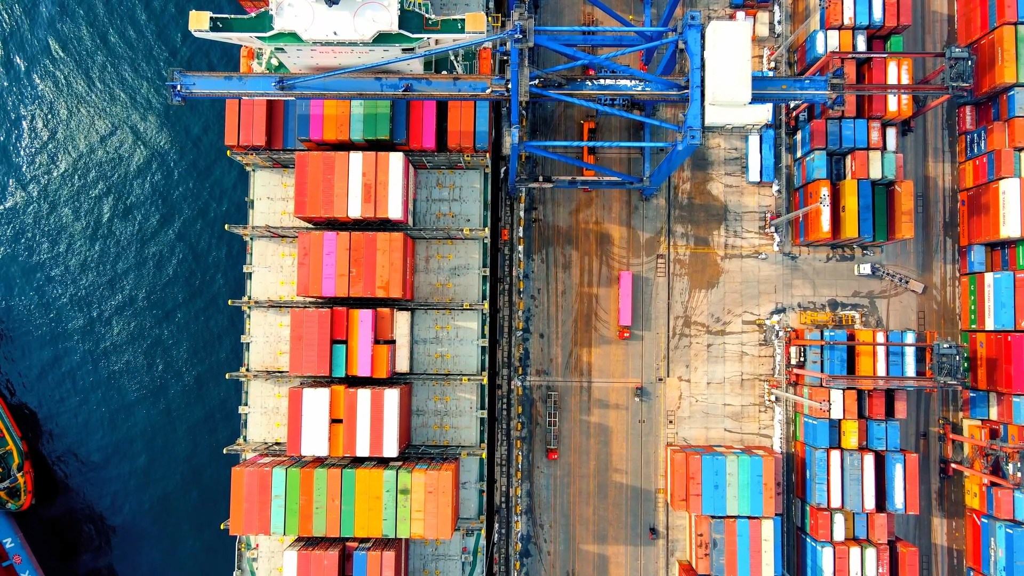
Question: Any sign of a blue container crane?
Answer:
Yes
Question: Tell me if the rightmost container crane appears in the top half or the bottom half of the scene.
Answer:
bottom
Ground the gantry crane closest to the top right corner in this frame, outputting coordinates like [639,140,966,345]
[789,46,978,128]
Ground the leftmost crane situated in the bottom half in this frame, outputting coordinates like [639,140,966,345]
[791,328,970,395]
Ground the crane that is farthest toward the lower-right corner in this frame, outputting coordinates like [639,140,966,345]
[948,424,1024,501]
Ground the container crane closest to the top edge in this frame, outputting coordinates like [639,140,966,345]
[531,0,679,60]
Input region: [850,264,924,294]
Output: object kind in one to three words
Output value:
truck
